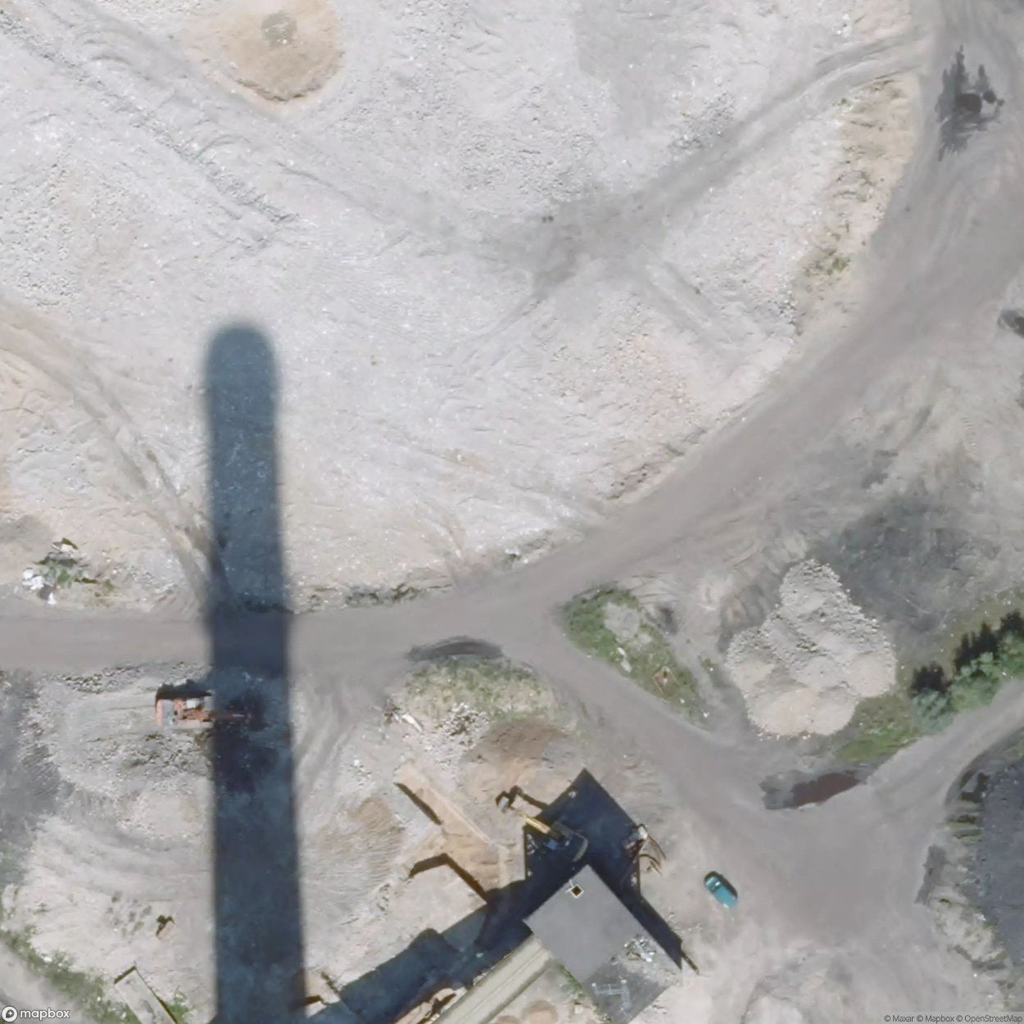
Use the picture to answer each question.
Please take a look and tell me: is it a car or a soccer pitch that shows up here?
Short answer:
car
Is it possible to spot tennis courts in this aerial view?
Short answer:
No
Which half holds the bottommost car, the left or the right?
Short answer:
right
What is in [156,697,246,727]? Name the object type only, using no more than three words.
work vehicle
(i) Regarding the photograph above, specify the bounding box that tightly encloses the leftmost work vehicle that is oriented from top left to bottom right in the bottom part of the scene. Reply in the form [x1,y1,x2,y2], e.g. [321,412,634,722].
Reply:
[498,796,589,863]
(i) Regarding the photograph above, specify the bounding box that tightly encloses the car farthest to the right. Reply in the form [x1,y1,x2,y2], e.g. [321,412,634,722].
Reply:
[703,874,736,910]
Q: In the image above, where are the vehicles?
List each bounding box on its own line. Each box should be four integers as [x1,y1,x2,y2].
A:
[703,874,736,910]
[498,796,589,863]
[156,697,246,727]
